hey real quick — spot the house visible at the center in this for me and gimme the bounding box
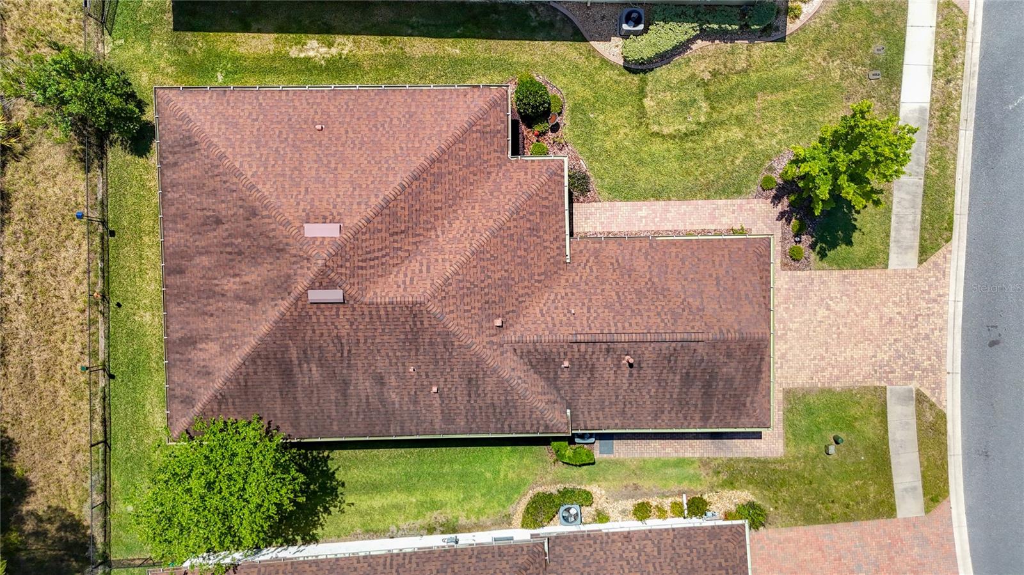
[154,84,776,444]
